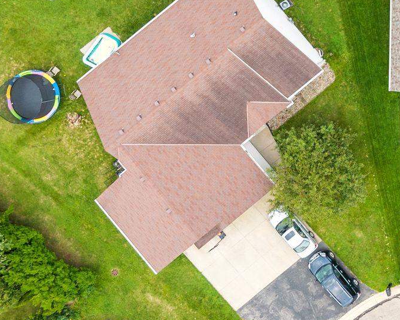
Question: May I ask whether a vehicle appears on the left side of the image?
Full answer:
No, no vehicle is visible on the left side of the image.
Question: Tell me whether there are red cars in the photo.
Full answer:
No, there isn't any red car down there.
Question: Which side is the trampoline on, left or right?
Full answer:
The trampoline is on the left side of the image.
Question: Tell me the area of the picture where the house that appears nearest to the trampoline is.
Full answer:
The house that appears nearest to the trampoline is located in the center region of the scene.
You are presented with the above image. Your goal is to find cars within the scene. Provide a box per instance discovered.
[268,205,319,264]
[306,252,362,318]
